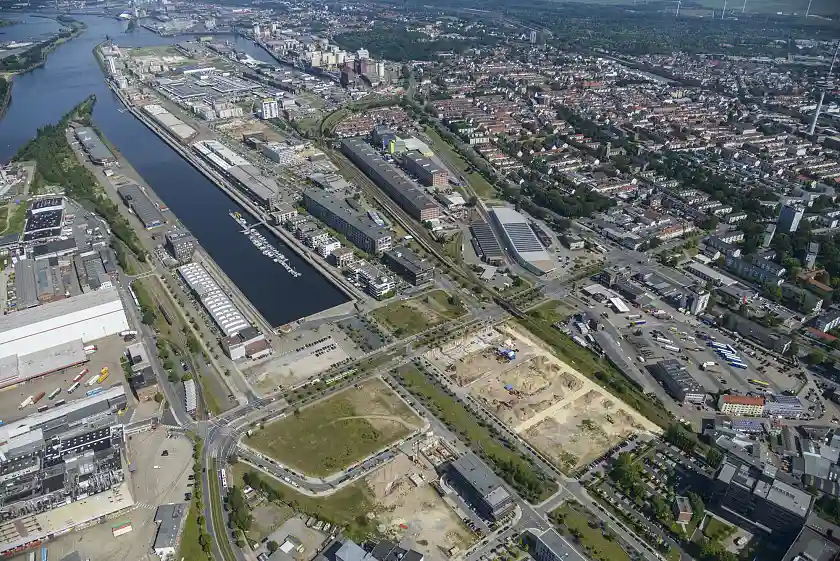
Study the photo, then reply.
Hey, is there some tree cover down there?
Yes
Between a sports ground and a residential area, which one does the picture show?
residential area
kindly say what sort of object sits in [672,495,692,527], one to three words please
house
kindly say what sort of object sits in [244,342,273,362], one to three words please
building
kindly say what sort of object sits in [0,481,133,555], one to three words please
building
